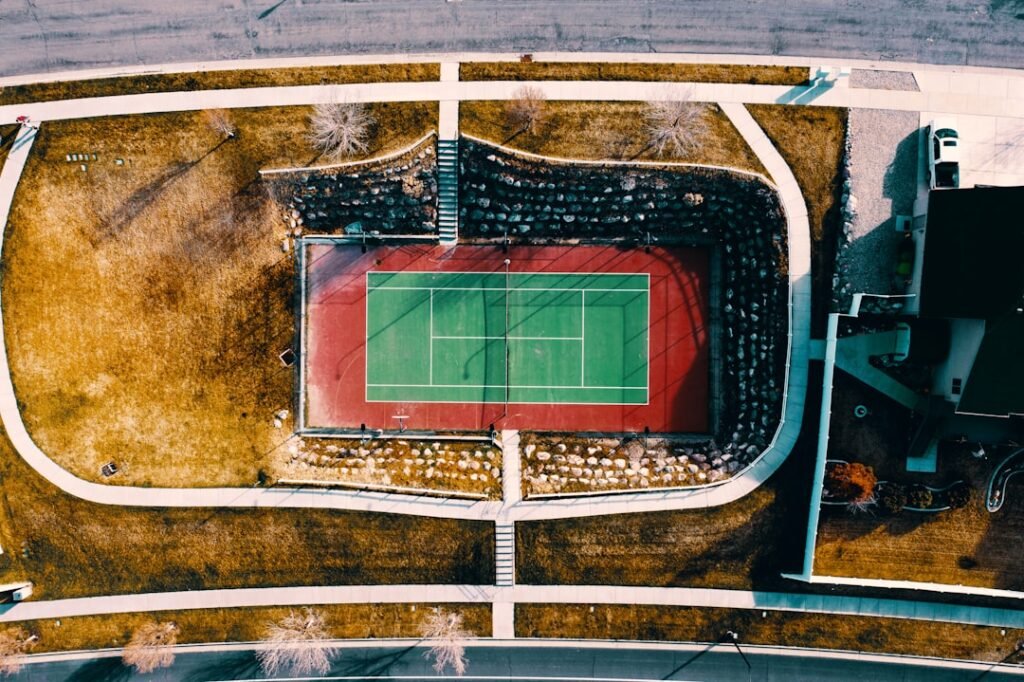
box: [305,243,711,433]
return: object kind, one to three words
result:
tennis court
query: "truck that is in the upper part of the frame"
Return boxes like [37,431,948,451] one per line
[927,119,964,185]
